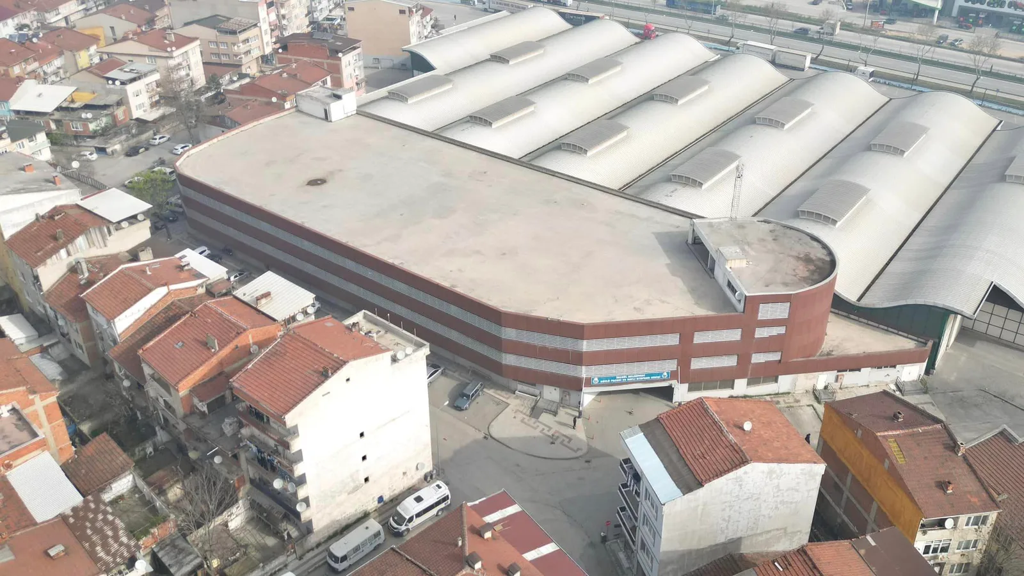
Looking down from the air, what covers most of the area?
buildings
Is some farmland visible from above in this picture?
No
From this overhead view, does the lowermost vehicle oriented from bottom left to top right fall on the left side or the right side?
left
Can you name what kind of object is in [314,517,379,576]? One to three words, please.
vehicle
